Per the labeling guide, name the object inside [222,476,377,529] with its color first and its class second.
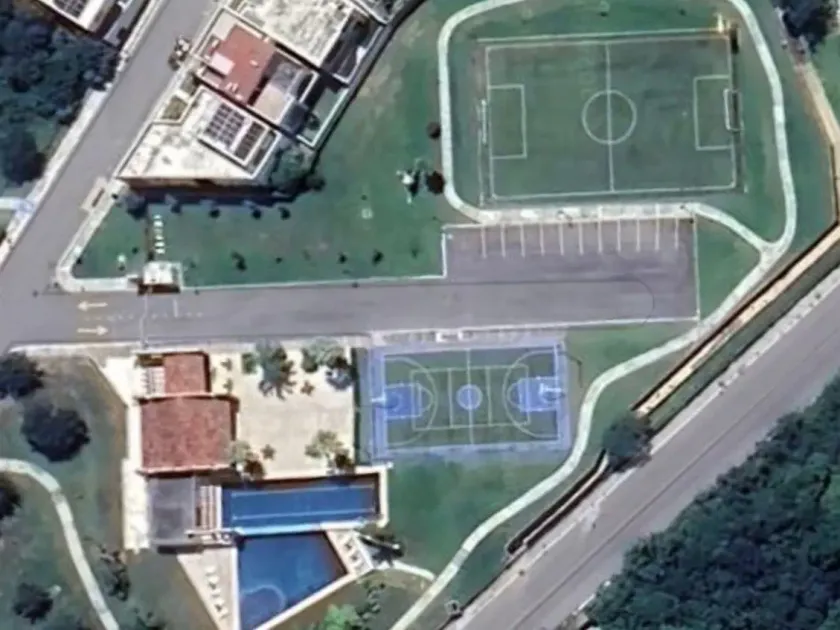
blue swimming pool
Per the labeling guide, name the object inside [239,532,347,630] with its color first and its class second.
blue swimming pool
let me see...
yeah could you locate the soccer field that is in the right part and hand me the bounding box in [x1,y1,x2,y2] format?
[478,30,743,206]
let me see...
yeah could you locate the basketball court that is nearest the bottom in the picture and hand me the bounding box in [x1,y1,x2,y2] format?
[368,338,572,463]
